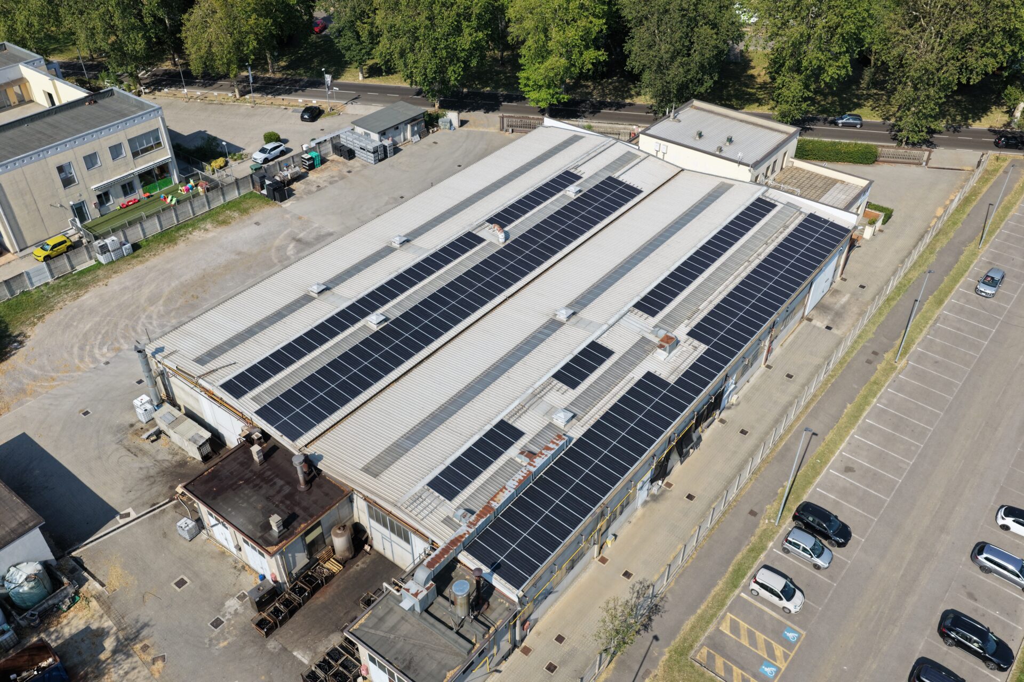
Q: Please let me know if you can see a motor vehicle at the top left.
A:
Yes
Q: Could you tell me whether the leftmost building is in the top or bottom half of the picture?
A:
bottom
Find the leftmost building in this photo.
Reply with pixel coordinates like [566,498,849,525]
[0,479,59,581]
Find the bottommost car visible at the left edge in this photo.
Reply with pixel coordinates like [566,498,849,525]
[33,230,77,259]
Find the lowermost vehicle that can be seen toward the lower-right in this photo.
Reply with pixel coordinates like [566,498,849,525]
[905,651,971,682]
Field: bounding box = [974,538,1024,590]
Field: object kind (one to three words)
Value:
car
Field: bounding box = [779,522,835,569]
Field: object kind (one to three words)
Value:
car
